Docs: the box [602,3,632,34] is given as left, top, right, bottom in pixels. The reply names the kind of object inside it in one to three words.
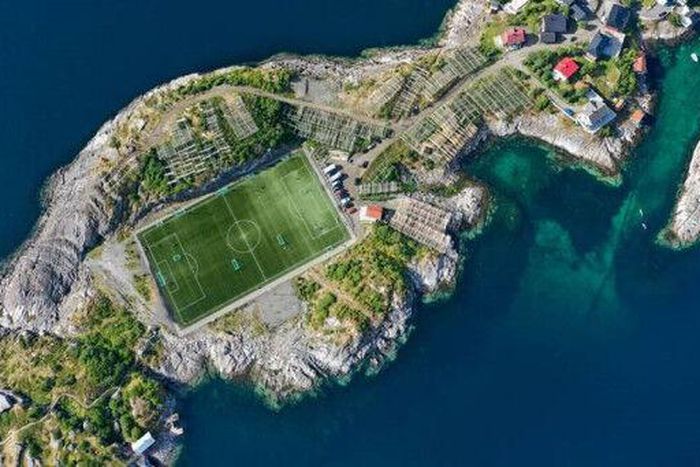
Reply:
house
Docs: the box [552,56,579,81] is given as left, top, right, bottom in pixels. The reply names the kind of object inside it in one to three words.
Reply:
house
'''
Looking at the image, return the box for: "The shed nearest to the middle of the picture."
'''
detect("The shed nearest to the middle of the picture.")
[360,206,382,222]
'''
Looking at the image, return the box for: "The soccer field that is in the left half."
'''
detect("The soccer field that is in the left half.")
[137,150,351,330]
